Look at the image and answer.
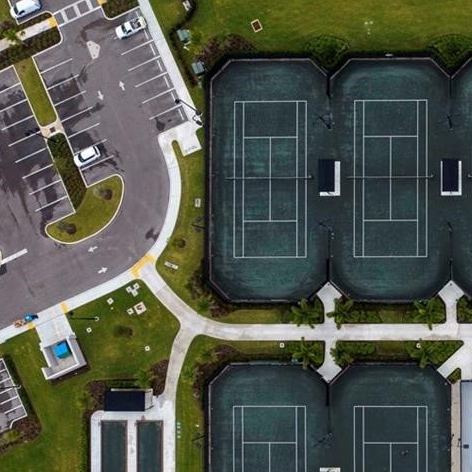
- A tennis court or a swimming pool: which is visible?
tennis court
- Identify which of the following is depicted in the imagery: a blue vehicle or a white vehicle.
white vehicle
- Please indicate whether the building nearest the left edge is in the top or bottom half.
bottom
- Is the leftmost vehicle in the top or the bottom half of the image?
top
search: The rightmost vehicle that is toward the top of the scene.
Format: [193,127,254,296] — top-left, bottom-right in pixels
[114,16,148,39]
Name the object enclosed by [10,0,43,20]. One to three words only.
vehicle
